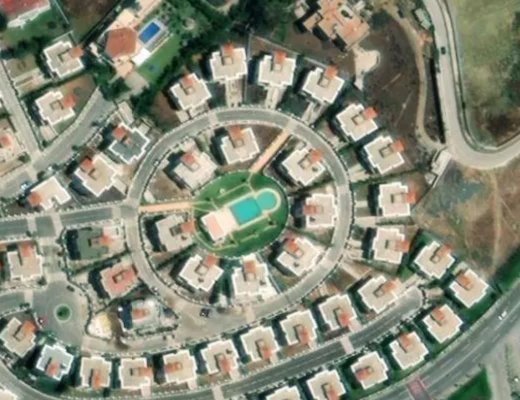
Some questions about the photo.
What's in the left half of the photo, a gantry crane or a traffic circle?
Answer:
traffic circle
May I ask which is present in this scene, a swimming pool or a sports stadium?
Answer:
swimming pool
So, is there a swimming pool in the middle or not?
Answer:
Yes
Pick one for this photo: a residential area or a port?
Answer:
residential area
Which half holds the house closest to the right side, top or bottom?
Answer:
bottom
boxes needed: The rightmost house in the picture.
[449,266,495,312]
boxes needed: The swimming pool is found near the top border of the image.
[136,17,165,48]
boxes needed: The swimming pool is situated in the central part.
[228,187,281,230]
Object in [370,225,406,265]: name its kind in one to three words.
house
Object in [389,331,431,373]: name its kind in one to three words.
house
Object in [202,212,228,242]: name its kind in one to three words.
building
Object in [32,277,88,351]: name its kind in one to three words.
roundabout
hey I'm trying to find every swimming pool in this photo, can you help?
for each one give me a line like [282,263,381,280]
[228,187,281,230]
[136,17,165,48]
